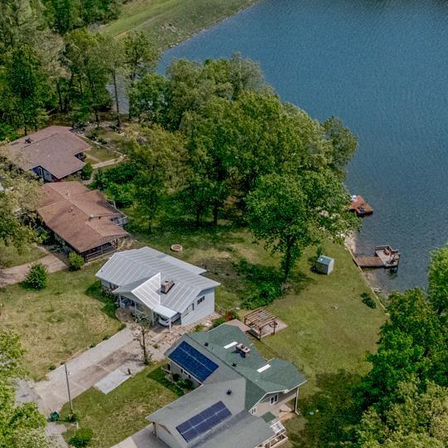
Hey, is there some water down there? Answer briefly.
Yes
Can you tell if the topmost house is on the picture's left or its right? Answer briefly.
left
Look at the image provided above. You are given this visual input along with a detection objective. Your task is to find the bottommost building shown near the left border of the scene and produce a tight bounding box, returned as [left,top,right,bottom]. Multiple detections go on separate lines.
[19,184,138,263]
